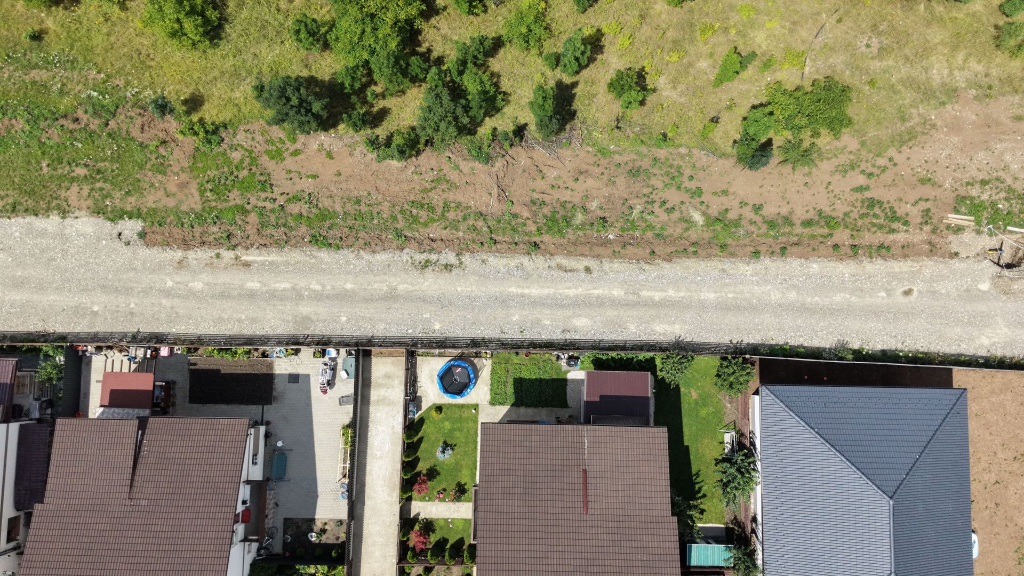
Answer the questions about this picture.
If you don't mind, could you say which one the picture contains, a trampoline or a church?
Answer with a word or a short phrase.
trampoline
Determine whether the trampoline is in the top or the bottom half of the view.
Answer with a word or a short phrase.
bottom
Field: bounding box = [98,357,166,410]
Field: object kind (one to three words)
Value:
shed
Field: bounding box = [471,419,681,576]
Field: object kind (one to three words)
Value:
house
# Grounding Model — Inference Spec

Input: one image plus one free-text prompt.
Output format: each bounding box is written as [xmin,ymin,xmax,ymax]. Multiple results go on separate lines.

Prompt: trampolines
[437,359,477,400]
